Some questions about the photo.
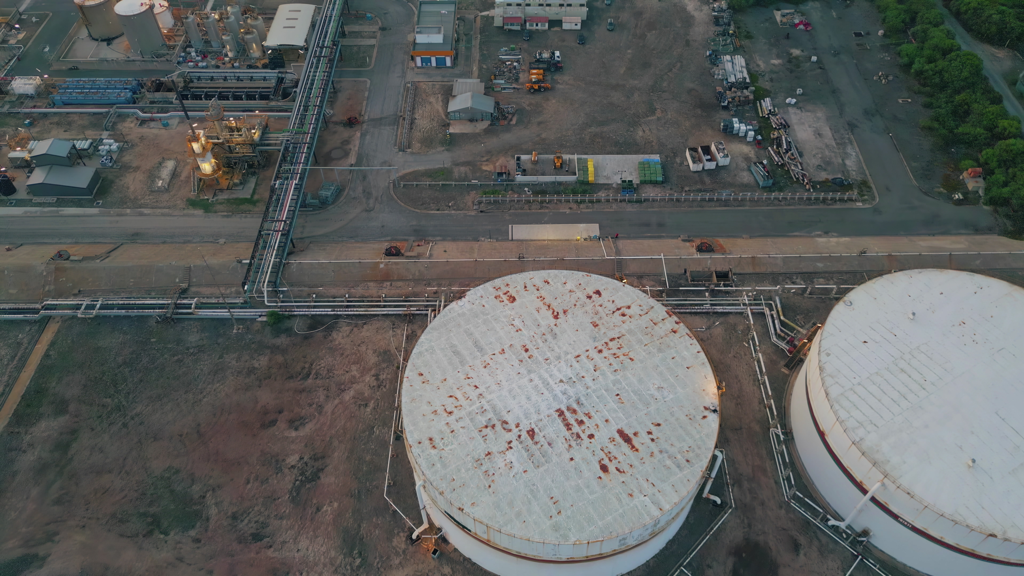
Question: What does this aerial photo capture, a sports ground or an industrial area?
industrial area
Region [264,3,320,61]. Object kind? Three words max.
building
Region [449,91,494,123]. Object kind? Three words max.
shed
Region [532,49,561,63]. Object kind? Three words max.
vehicle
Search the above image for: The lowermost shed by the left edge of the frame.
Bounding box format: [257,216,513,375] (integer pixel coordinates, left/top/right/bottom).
[26,163,102,200]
